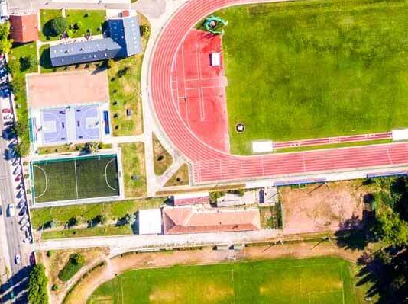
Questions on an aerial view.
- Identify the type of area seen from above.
sports ground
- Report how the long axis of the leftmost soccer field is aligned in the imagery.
horizontally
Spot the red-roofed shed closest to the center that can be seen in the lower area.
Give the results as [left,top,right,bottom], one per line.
[174,193,210,206]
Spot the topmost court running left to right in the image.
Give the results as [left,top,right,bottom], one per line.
[26,69,109,107]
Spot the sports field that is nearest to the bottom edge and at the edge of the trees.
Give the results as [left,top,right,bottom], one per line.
[87,258,357,304]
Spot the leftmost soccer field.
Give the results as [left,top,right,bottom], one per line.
[32,155,120,205]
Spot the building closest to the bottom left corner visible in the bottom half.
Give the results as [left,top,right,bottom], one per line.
[140,206,162,235]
